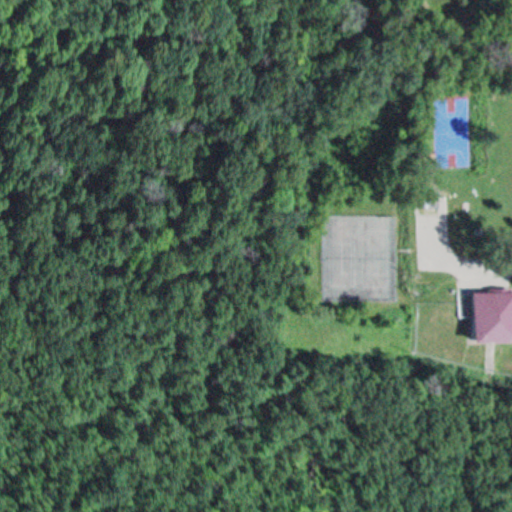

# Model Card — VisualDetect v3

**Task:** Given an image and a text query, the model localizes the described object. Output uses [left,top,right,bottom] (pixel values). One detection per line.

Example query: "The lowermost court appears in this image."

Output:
[322,216,397,303]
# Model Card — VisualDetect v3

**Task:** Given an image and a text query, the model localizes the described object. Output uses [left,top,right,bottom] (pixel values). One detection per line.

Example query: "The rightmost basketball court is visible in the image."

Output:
[434,98,470,168]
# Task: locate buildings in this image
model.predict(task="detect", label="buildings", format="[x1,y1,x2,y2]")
[474,288,512,342]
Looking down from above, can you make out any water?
No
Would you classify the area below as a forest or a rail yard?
forest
